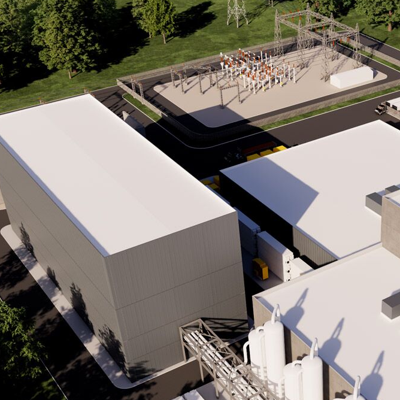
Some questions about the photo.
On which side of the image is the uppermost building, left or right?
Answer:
right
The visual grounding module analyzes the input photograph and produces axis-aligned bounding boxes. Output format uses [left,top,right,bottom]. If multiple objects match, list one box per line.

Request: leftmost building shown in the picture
[0,94,248,382]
